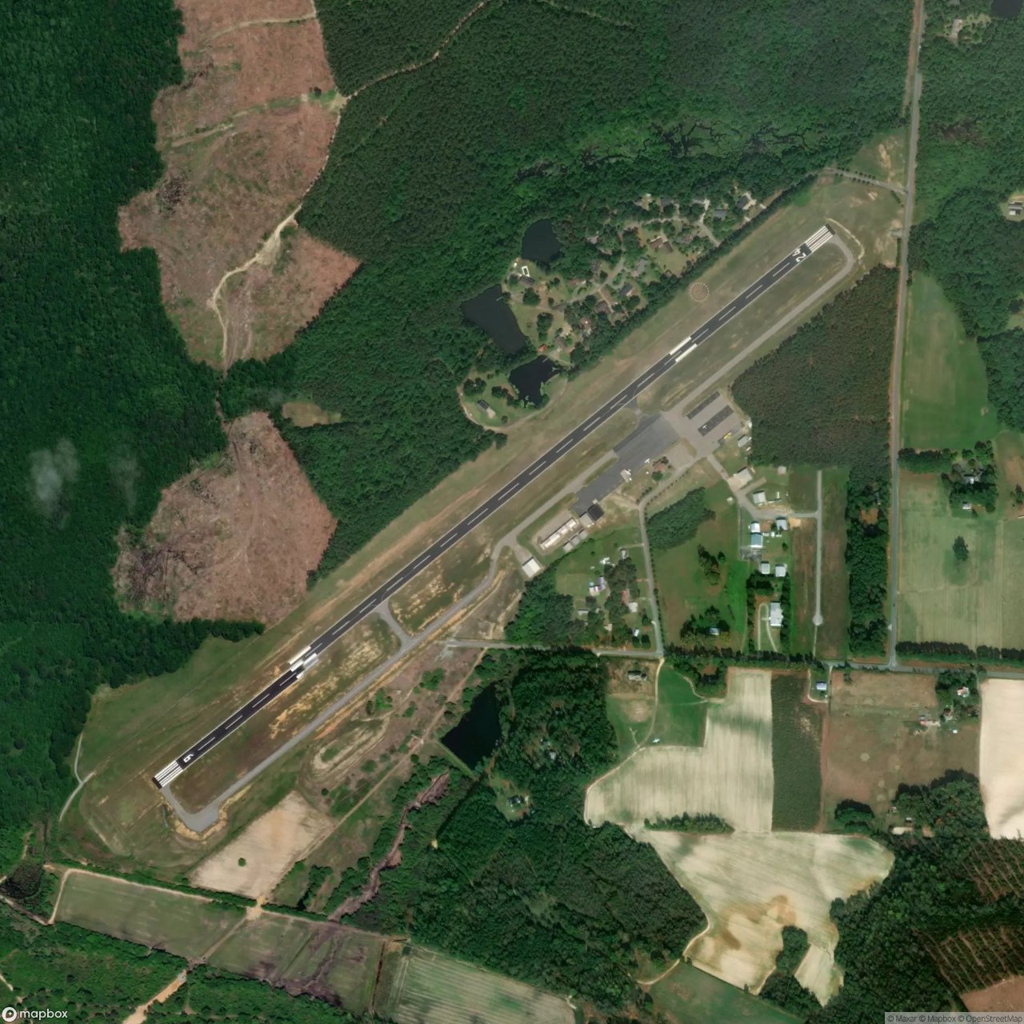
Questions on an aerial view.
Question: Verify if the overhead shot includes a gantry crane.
No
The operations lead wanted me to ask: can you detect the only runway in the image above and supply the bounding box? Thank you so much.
[153,224,835,788]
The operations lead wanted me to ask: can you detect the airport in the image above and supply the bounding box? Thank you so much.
[153,224,854,831]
